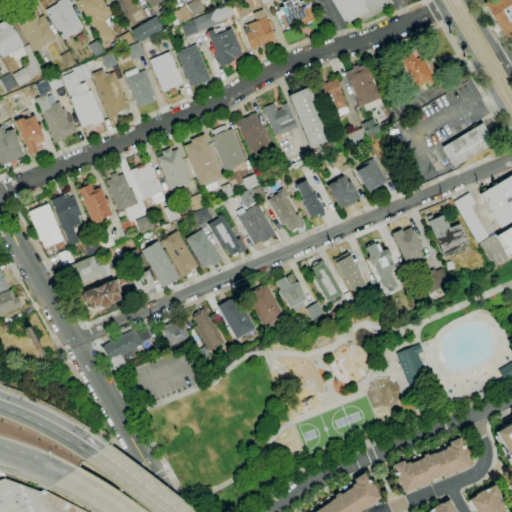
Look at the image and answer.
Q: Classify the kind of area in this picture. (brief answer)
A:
residential area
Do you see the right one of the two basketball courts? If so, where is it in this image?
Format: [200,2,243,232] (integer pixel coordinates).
[322,396,376,439]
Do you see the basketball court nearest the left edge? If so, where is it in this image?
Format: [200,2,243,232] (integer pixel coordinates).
[297,414,332,450]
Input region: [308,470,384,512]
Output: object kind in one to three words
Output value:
building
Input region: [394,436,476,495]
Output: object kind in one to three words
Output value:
building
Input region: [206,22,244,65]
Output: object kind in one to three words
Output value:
house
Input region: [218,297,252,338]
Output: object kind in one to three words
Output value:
house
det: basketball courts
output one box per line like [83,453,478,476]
[322,396,376,439]
[297,414,332,450]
